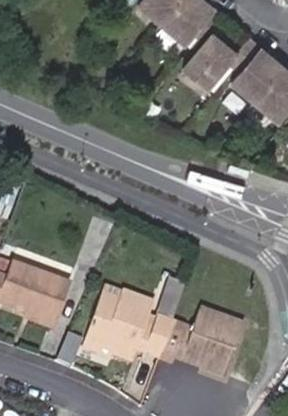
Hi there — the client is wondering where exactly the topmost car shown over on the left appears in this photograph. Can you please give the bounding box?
[62,298,75,318]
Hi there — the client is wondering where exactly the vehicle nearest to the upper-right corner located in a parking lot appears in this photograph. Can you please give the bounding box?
[257,26,278,46]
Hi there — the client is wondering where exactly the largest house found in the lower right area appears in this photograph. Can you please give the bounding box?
[184,304,245,380]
